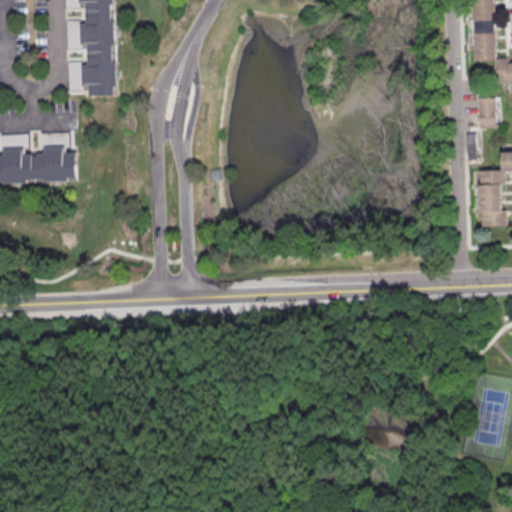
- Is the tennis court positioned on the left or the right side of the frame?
right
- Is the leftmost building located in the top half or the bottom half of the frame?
top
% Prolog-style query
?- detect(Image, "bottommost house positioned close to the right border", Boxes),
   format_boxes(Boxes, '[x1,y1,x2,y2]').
[478,170,510,226]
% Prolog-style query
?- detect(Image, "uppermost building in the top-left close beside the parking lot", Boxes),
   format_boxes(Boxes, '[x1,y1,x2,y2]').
[65,0,120,98]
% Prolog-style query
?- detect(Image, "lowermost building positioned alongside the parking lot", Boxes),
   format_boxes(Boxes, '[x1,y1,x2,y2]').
[0,130,78,187]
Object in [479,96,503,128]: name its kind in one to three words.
house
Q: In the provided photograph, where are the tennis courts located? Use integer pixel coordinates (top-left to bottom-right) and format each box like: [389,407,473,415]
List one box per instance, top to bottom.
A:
[466,376,512,462]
